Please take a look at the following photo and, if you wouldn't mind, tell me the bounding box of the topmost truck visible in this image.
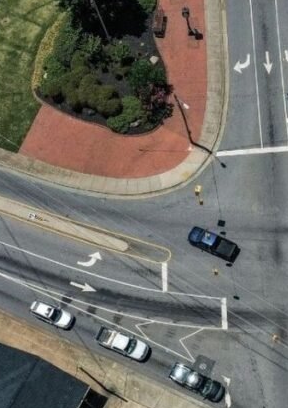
[187,227,240,259]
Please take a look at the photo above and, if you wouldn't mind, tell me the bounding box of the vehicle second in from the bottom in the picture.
[95,323,150,359]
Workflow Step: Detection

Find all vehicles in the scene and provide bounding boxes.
[95,323,150,359]
[187,227,240,259]
[27,298,73,328]
[168,362,226,400]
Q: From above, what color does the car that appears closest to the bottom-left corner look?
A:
white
